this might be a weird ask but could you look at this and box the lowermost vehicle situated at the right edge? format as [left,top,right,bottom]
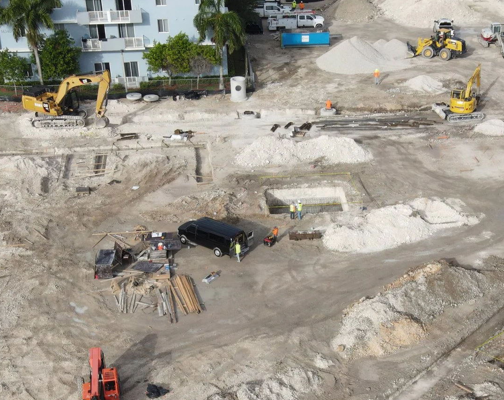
[439,51,482,115]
